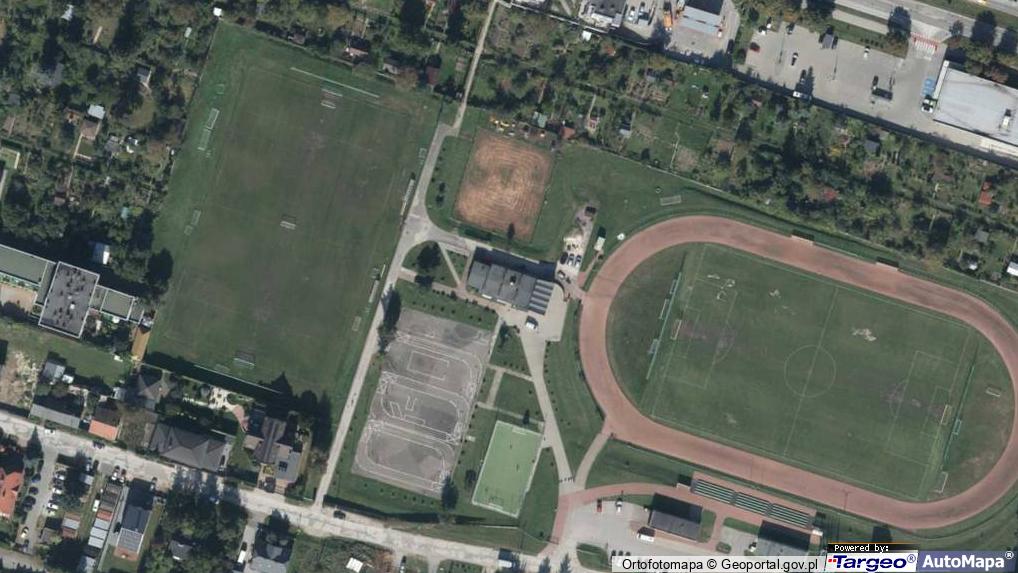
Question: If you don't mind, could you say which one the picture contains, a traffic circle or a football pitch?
football pitch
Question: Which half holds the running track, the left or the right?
right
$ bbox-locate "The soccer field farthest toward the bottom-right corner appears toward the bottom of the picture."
[606,242,1016,499]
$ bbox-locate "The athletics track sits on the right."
[580,216,1018,526]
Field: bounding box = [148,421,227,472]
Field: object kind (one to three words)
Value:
house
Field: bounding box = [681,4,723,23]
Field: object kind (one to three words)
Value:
building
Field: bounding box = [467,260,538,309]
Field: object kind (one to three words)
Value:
building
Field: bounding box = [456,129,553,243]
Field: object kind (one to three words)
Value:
sports field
